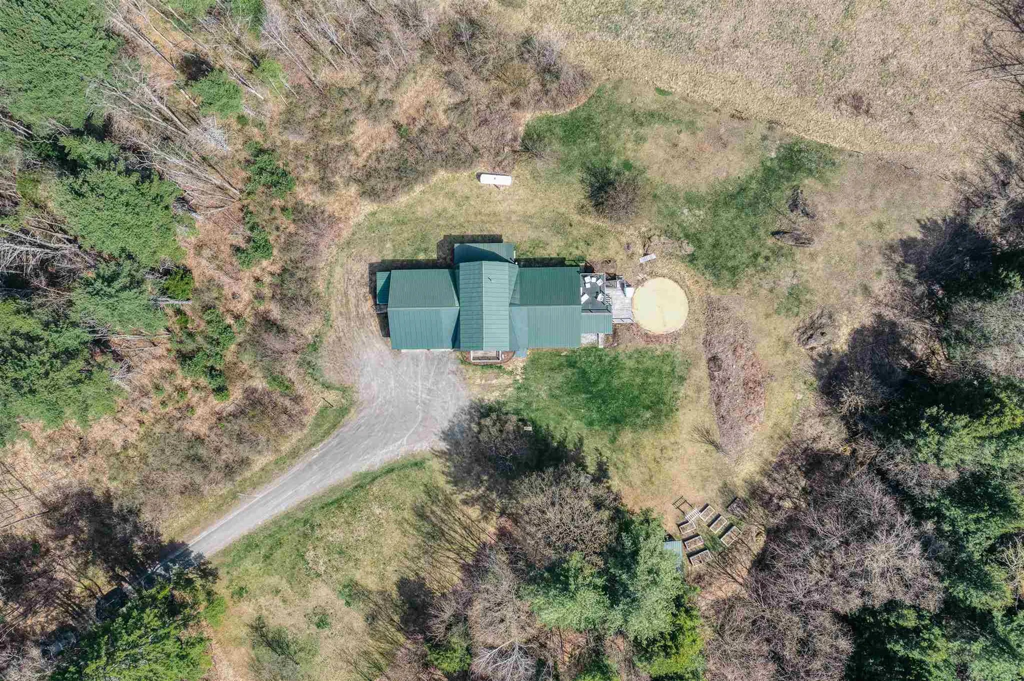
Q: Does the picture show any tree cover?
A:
Yes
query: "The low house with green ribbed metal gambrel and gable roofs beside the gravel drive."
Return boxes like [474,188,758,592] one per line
[376,243,612,357]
